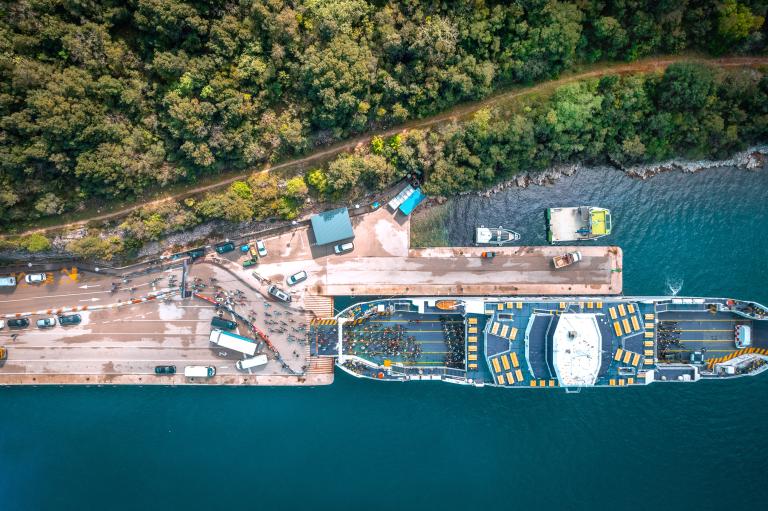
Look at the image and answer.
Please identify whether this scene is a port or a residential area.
port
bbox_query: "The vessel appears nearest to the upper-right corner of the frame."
[548,207,612,243]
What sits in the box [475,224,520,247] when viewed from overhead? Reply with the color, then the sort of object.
white boat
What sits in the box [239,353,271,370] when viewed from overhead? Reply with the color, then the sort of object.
white vehicle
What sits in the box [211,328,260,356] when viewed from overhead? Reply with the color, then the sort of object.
white truck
